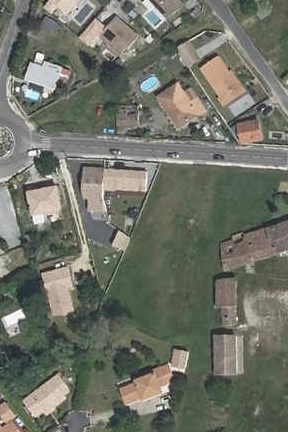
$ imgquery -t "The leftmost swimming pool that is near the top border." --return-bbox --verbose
[77,2,95,26]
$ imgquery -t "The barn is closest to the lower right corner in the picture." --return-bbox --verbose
[213,335,245,376]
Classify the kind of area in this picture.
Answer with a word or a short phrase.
residential area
